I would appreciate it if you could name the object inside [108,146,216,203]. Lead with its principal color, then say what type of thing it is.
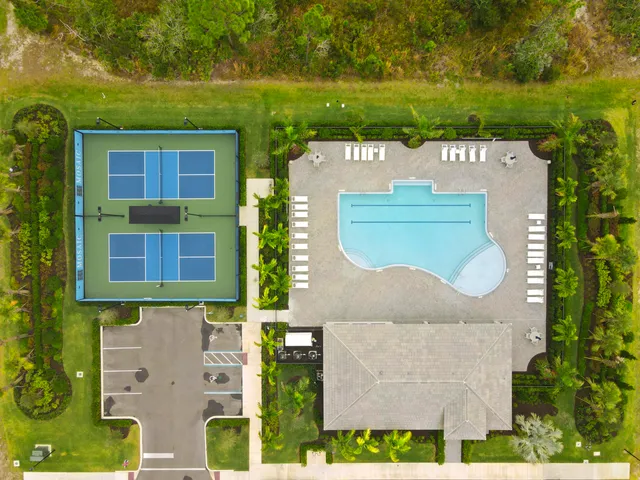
blue sports court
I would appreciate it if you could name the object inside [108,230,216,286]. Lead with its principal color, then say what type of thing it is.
blue sports court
